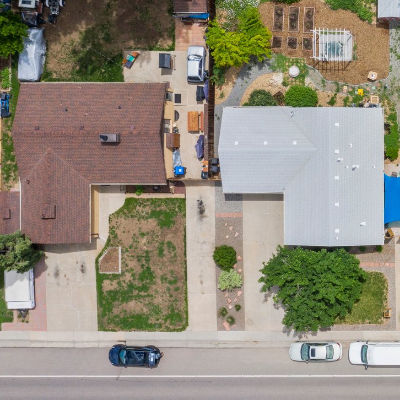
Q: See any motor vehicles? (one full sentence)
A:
Yes, there's a motor vehicle down there.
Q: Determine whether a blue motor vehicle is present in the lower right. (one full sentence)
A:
No, there is no blue motor vehicle in the lower right.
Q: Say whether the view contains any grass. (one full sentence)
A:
Yes, some grass is visible.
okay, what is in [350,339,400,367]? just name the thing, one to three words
vehicle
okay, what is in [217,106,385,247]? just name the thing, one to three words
house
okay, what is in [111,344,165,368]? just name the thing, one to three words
car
